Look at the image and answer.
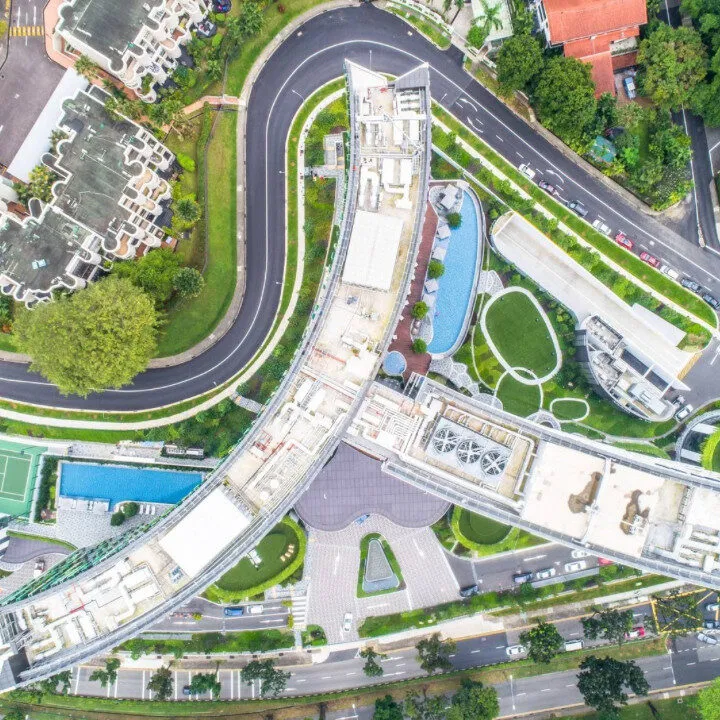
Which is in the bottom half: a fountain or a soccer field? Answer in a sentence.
It is a fountain that can be seen in the bottom half.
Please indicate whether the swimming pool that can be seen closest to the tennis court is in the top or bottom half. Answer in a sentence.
The bottom half of the photo is where the swimming pool that can be seen closest to the tennis court is.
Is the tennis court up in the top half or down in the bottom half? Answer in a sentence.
It is in the bottom half that the tennis court appears.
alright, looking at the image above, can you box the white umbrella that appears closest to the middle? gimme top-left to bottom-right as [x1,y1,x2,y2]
[424,278,439,294]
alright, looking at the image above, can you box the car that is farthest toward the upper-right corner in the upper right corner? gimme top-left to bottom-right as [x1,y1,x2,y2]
[622,77,636,98]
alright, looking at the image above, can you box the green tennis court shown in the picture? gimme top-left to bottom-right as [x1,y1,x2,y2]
[0,440,46,521]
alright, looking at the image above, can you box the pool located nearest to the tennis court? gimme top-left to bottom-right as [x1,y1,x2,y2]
[56,461,205,522]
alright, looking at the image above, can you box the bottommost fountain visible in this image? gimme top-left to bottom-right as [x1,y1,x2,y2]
[363,537,399,592]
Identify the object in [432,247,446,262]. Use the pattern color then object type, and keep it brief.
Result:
white umbrella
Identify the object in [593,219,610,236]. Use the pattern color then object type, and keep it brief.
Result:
white car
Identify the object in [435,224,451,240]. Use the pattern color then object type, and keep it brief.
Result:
white umbrella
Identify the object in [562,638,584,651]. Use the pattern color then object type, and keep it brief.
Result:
white vehicle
